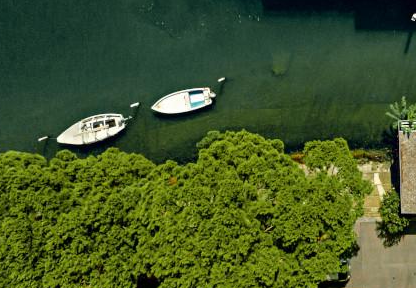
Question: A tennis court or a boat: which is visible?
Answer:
boat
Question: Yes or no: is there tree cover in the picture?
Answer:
Yes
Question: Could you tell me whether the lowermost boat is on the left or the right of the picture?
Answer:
left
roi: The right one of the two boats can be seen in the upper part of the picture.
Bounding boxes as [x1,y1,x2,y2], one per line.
[149,86,216,114]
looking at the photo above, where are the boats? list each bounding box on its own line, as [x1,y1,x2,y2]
[55,115,131,145]
[149,86,216,114]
